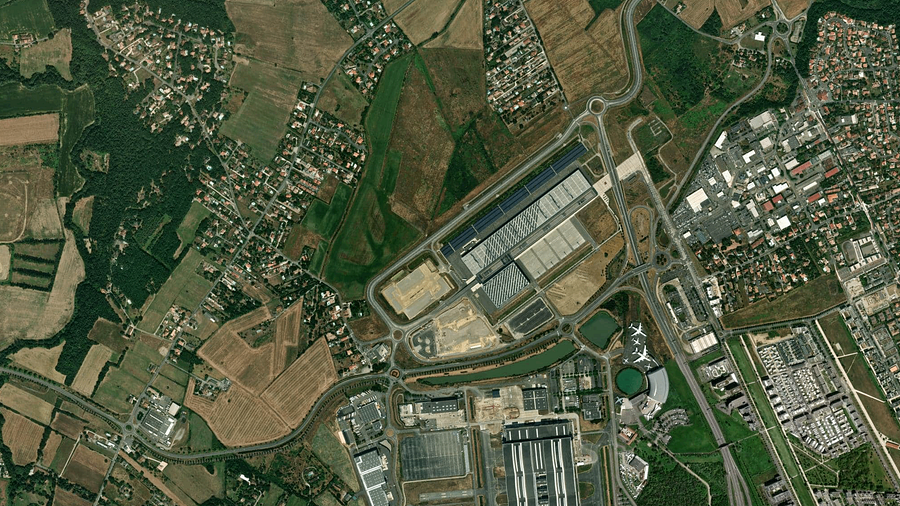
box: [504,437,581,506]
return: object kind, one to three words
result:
hangar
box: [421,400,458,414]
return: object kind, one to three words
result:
hangar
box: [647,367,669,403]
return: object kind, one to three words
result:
building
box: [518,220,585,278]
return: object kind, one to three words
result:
building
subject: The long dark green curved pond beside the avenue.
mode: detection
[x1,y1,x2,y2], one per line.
[416,341,575,385]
